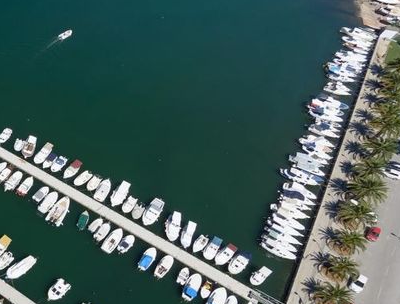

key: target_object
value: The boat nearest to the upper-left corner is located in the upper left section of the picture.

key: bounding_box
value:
[55,29,72,42]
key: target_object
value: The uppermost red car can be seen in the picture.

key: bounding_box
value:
[366,224,380,242]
